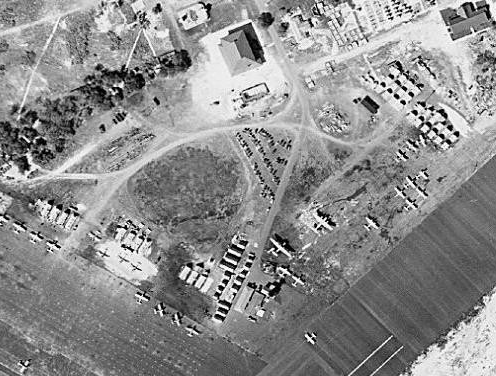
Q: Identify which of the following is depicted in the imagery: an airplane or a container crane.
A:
airplane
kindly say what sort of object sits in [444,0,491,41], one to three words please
building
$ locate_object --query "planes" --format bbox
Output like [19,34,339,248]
[406,141,417,153]
[306,333,317,345]
[269,239,290,260]
[136,295,148,305]
[186,328,198,338]
[47,243,59,253]
[406,200,417,211]
[277,267,290,279]
[313,215,332,233]
[153,305,164,317]
[118,257,128,266]
[291,276,303,289]
[418,171,428,180]
[30,233,42,244]
[364,219,376,231]
[394,188,406,199]
[170,314,181,327]
[14,224,26,235]
[98,252,108,262]
[396,152,407,163]
[416,188,427,199]
[405,177,416,188]
[20,362,28,371]
[417,137,427,146]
